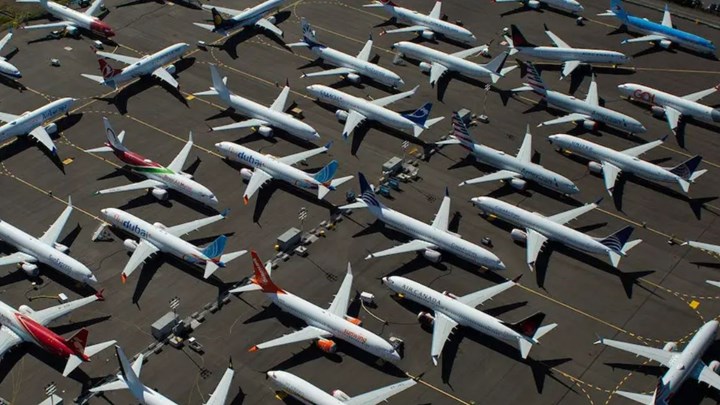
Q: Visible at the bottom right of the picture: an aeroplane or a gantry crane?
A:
aeroplane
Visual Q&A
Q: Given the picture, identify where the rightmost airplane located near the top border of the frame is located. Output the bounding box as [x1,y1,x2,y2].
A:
[598,0,716,53]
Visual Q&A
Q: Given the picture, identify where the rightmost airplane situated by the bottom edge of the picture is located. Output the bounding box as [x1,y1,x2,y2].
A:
[596,319,720,405]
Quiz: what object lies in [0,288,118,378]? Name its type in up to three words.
airplane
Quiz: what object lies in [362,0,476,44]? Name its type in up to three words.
airplane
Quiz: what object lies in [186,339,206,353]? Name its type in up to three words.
vehicle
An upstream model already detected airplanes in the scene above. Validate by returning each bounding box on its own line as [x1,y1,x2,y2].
[101,207,248,286]
[0,288,118,378]
[550,134,708,197]
[384,274,558,365]
[492,0,582,14]
[618,83,720,134]
[192,63,320,141]
[598,0,716,53]
[16,0,116,41]
[362,0,476,44]
[511,60,646,135]
[435,110,579,195]
[596,319,720,405]
[338,171,506,271]
[193,0,288,39]
[503,23,630,79]
[80,43,193,91]
[267,371,425,405]
[83,117,219,206]
[473,196,643,271]
[0,96,76,155]
[309,84,445,139]
[394,40,518,89]
[227,250,400,360]
[285,18,404,89]
[215,140,354,206]
[0,196,97,283]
